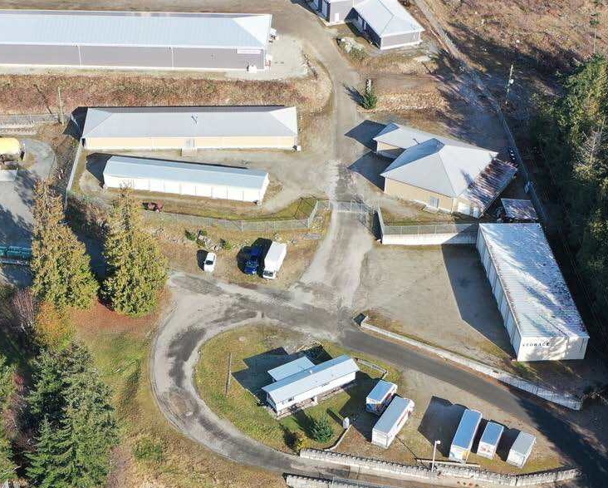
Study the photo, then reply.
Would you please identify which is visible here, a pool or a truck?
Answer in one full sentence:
It is a truck that can be seen here.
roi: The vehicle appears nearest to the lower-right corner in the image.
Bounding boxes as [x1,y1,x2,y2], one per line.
[506,430,541,466]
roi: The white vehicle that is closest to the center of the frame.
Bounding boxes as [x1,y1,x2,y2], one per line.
[261,237,287,277]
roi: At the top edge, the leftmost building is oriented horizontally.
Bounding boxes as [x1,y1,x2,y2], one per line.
[0,9,273,70]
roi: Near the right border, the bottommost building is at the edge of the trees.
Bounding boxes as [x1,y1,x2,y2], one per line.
[475,221,590,359]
